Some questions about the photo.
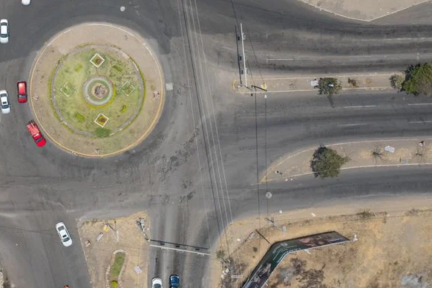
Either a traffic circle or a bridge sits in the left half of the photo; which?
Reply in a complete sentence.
Visible in the left half of the photo is a traffic circle.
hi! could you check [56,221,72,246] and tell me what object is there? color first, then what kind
white car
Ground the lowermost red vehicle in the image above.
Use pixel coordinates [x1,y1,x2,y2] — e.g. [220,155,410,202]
[27,119,45,147]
